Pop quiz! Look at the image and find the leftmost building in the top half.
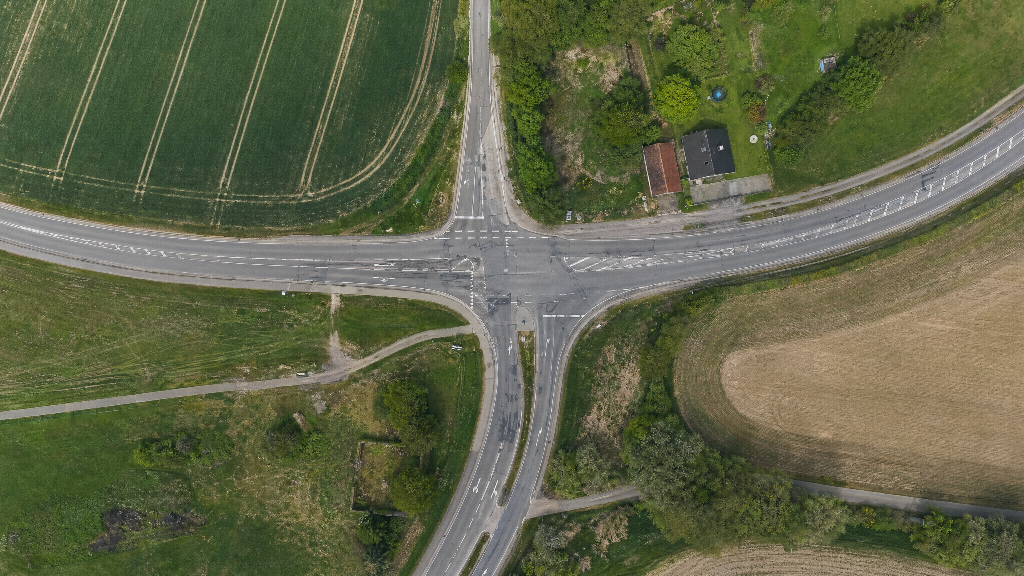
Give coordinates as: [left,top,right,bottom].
[643,142,682,197]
